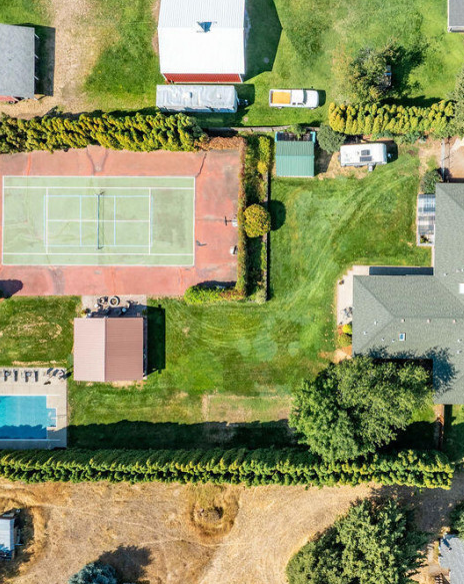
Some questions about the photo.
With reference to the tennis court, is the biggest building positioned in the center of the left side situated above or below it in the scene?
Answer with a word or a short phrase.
below it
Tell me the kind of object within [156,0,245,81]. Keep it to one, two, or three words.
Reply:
barn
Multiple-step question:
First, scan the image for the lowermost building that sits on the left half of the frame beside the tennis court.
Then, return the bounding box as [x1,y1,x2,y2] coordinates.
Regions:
[74,318,147,382]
